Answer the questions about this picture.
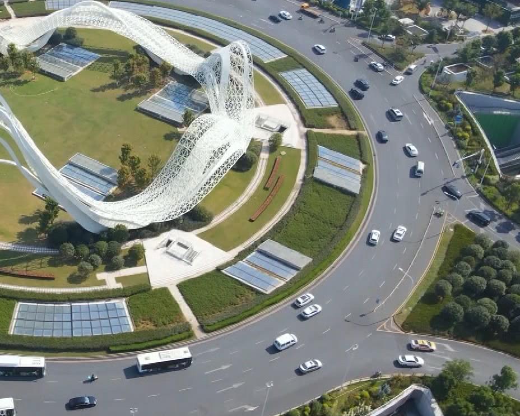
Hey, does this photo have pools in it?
No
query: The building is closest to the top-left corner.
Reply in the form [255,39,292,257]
[37,42,100,83]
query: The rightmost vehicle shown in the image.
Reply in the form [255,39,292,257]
[466,210,492,225]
